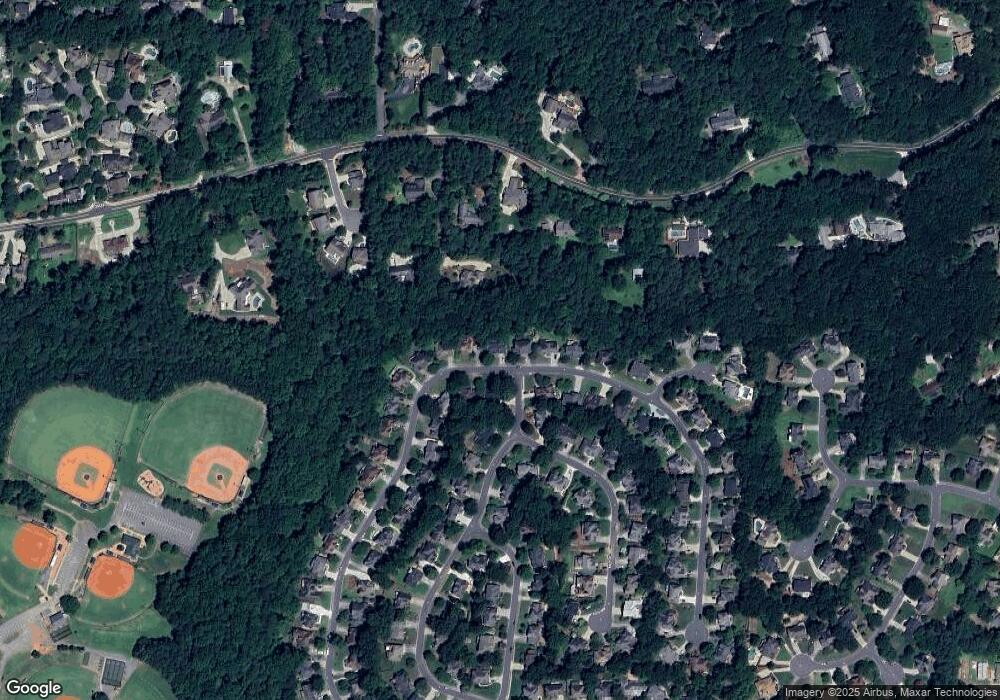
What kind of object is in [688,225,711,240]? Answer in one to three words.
house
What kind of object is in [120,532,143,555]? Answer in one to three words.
building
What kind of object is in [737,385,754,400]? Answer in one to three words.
swimming pool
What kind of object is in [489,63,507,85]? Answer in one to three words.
swimming pool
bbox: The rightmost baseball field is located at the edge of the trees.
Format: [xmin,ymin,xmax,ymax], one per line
[139,384,267,509]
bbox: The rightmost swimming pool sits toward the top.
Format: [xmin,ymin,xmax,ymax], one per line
[935,62,953,76]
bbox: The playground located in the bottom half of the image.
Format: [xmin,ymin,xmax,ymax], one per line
[138,470,164,498]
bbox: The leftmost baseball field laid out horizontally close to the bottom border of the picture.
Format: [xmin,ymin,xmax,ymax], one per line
[1,664,100,700]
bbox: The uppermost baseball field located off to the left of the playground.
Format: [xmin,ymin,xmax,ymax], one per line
[8,386,131,510]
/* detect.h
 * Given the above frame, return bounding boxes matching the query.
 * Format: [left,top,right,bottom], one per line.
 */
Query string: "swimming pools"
[17,119,29,133]
[737,385,754,400]
[489,63,507,85]
[165,130,177,141]
[20,183,34,191]
[404,37,422,56]
[753,518,766,533]
[201,90,221,107]
[24,77,35,93]
[142,44,158,60]
[120,121,134,134]
[935,62,953,76]
[849,213,867,237]
[669,227,688,239]
[252,294,264,308]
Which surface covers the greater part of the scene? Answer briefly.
trees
